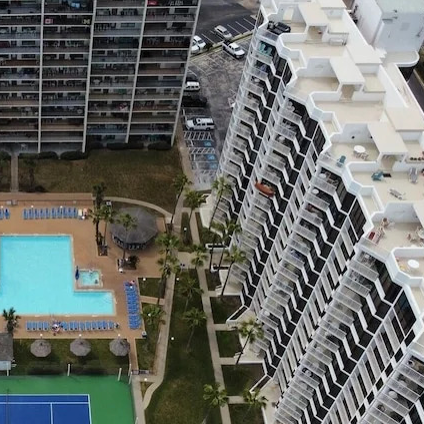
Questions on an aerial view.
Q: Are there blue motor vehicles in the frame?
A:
No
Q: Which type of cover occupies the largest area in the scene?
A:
buildings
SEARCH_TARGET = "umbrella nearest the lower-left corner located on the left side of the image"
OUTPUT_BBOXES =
[28,336,53,357]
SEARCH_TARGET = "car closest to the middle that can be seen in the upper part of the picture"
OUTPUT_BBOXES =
[185,117,216,131]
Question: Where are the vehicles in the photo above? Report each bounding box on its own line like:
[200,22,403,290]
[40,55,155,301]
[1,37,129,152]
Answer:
[213,23,233,41]
[185,117,216,131]
[221,40,245,60]
[183,96,204,107]
[186,80,200,93]
[194,36,208,50]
